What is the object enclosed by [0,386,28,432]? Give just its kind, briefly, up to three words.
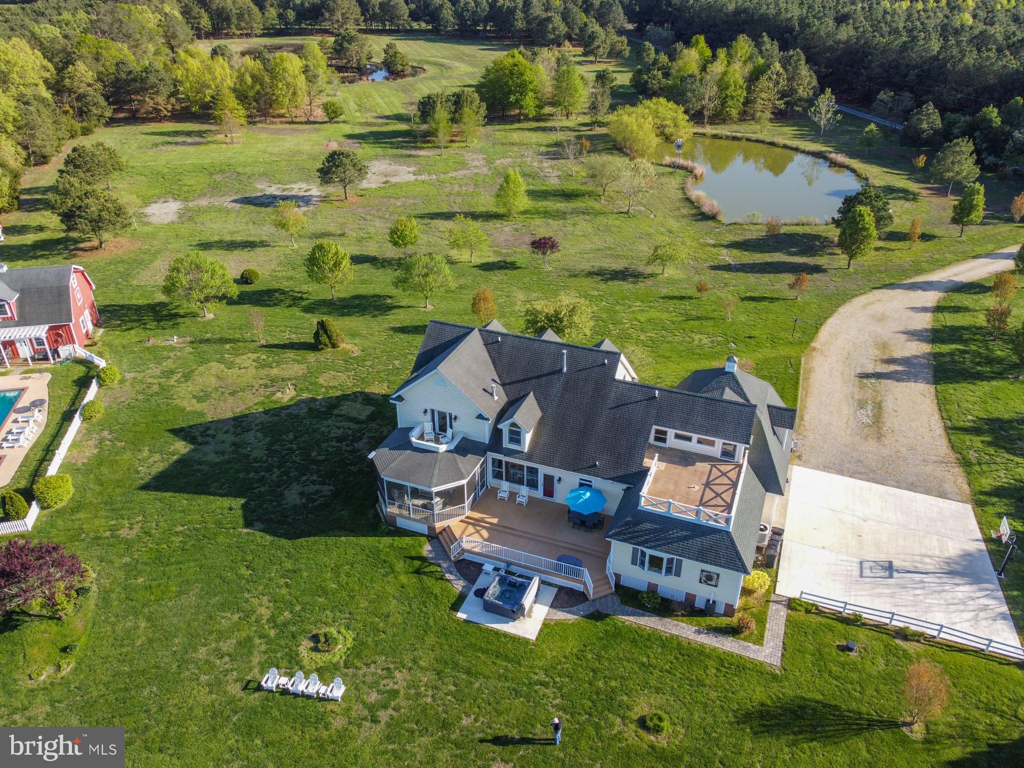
swimming pool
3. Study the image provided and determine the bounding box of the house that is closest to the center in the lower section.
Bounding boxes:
[358,319,798,616]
